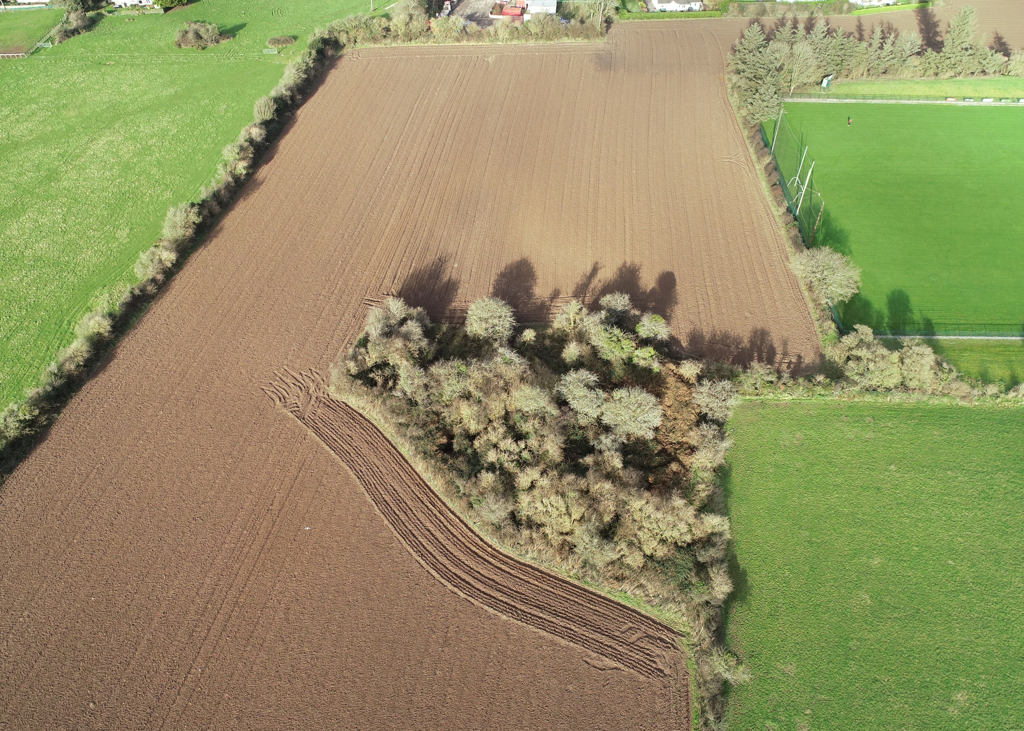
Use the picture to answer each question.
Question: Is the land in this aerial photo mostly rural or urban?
rural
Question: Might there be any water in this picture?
No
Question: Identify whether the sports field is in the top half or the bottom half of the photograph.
top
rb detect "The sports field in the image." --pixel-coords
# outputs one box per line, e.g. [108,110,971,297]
[762,103,1024,337]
